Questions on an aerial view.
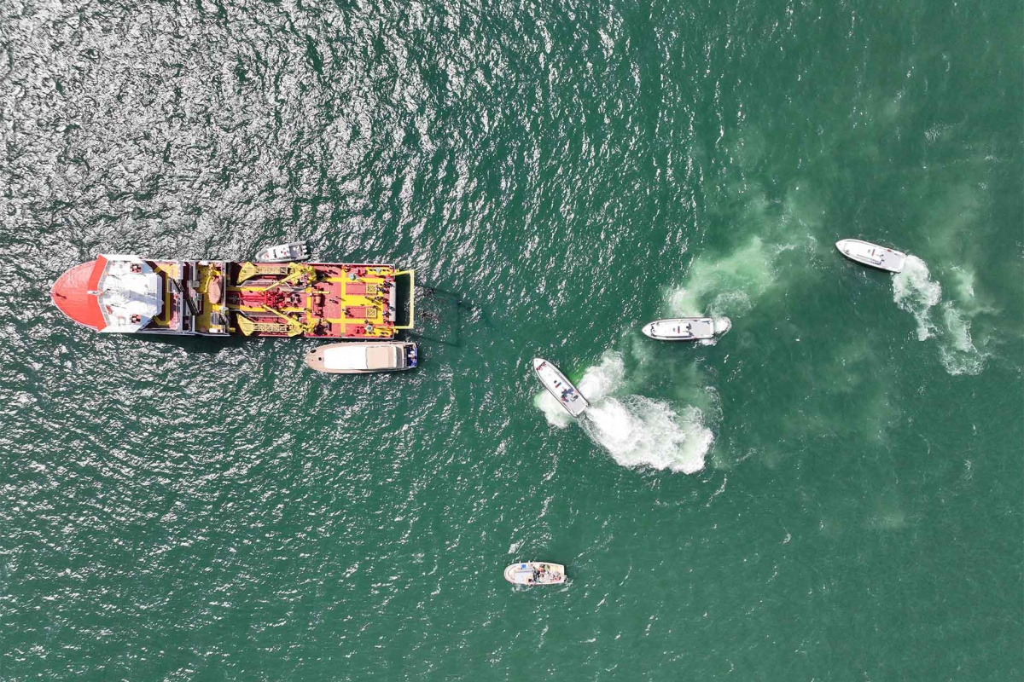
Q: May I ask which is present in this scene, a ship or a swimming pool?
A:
ship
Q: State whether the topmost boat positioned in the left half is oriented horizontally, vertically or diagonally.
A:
horizontally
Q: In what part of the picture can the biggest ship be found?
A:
left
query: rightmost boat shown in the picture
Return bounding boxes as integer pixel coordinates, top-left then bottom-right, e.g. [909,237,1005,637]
[838,237,910,273]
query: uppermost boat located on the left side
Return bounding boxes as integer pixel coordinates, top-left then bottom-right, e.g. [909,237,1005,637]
[252,241,308,262]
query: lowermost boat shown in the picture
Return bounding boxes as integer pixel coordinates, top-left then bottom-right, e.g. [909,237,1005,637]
[504,562,567,585]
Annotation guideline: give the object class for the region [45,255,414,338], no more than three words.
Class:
ship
